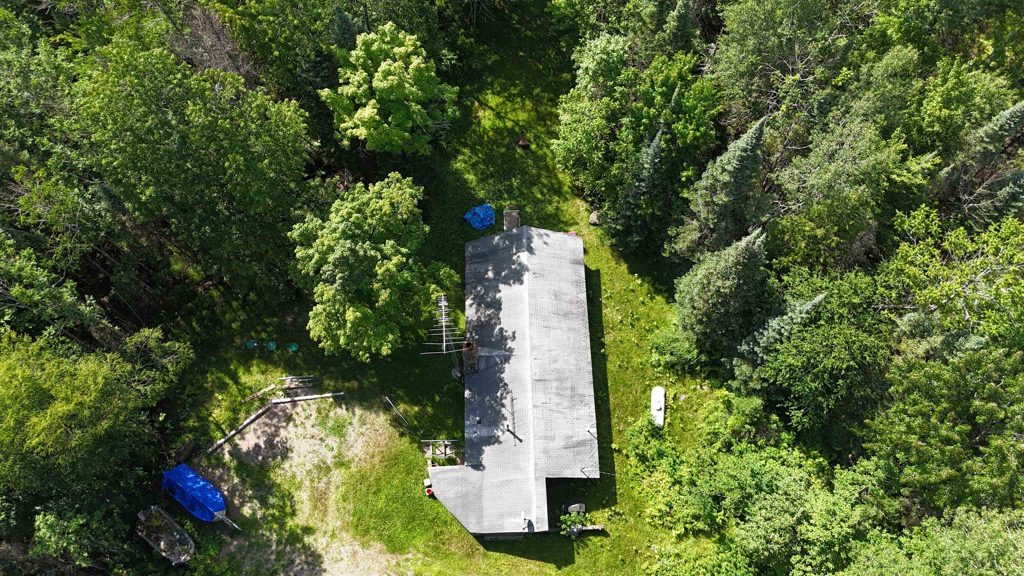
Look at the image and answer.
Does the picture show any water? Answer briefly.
No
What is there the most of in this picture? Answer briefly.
trees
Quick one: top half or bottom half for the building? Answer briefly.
bottom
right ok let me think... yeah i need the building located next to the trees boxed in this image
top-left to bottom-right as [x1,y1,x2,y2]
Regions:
[428,228,600,534]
